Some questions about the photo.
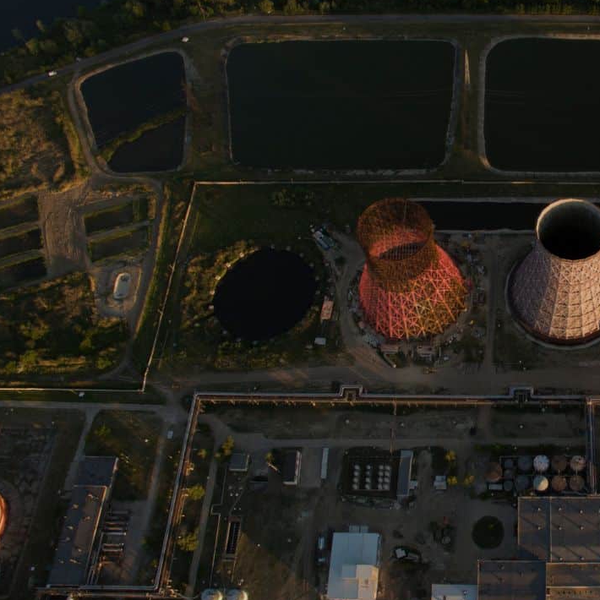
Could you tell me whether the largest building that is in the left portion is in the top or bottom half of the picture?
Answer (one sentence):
It is in the bottom half that the largest building that is in the left portion appears.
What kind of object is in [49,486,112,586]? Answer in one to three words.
building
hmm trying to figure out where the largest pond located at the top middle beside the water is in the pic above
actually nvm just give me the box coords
[230,44,454,169]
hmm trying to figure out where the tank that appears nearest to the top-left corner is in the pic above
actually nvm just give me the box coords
[106,267,135,302]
